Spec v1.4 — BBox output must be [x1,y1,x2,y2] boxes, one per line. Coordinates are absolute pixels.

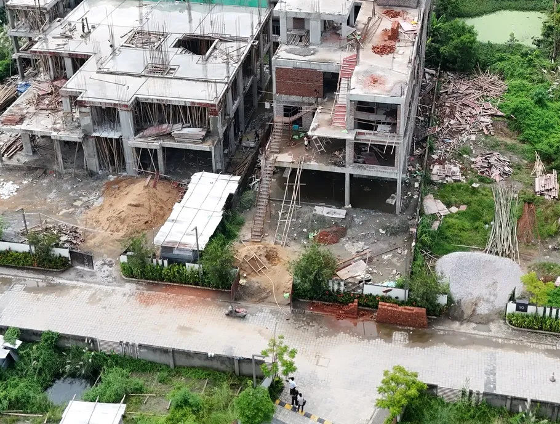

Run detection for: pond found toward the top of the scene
[458,9,550,44]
